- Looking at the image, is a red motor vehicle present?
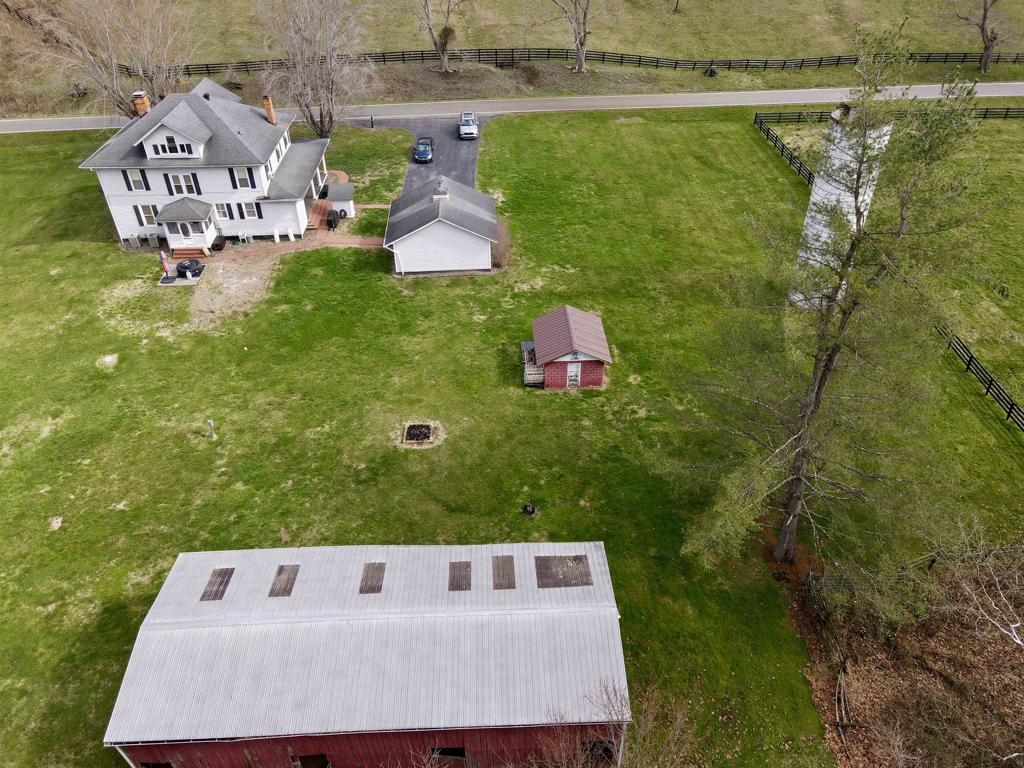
No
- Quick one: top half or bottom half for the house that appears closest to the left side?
top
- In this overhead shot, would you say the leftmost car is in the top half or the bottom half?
top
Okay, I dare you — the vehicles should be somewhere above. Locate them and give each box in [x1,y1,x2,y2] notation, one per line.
[413,134,436,159]
[457,106,480,135]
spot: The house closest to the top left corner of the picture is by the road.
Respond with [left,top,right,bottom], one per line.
[80,77,334,253]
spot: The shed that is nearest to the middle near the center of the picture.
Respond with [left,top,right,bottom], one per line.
[532,304,613,389]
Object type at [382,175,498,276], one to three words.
building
